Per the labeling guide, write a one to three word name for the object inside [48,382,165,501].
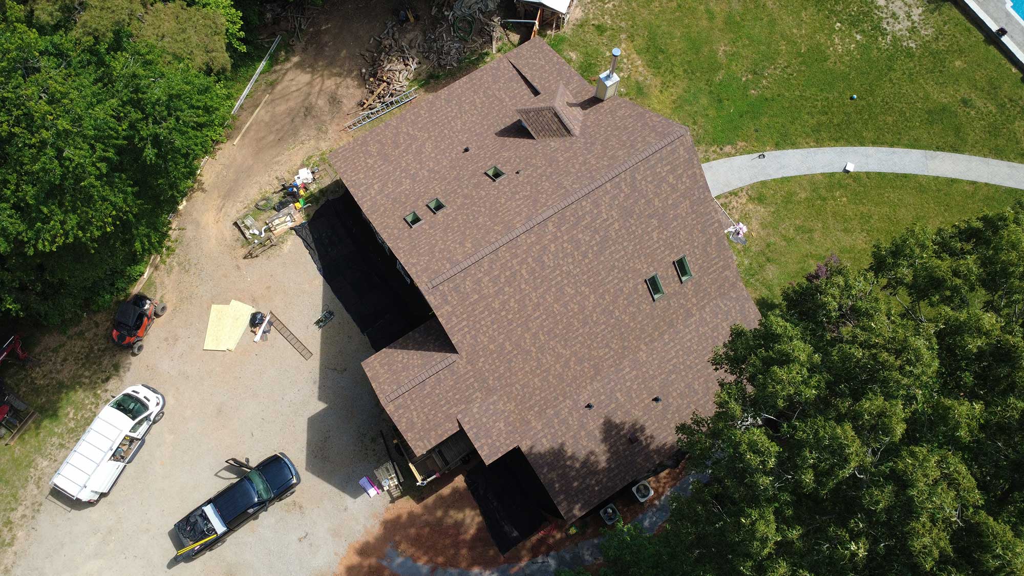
van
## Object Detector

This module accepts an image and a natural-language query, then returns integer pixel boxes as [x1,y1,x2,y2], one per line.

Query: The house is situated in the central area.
[331,36,775,528]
